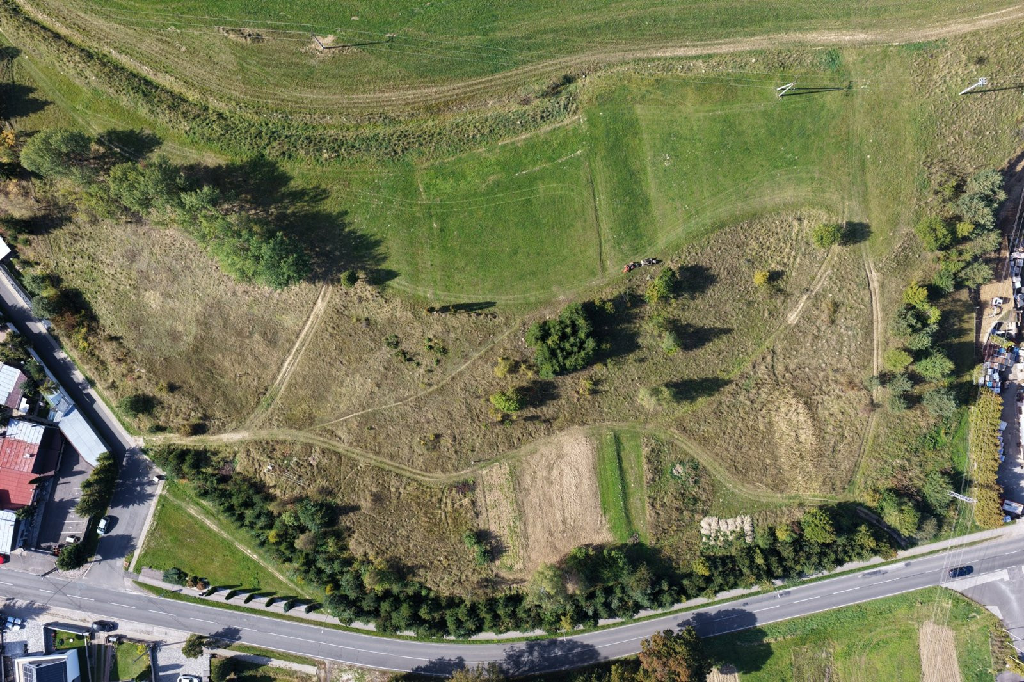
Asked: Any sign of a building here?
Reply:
Yes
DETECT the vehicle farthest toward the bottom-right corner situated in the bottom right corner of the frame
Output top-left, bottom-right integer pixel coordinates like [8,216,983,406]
[951,565,973,578]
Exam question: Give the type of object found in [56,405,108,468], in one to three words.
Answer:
shed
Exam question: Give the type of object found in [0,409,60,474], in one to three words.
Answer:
house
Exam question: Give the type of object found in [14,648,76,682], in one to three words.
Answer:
house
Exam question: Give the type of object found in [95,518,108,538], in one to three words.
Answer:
vehicle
